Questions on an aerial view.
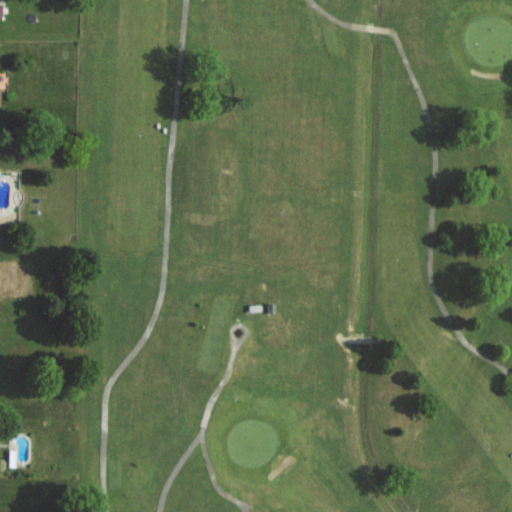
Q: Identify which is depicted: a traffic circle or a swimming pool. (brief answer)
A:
swimming pool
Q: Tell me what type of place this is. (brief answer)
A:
golf course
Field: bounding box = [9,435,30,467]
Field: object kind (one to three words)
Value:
swimming pool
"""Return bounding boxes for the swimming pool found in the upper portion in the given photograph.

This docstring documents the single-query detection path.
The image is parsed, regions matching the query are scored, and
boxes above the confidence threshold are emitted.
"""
[0,172,23,226]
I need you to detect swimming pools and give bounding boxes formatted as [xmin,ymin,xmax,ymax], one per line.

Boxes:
[9,435,30,467]
[0,172,23,226]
